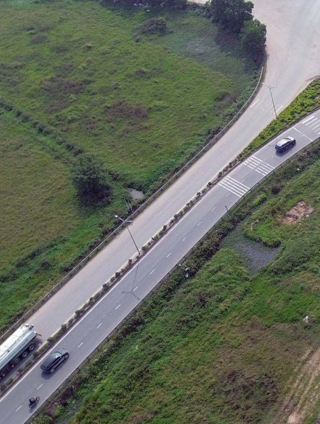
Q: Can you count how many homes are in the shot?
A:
zero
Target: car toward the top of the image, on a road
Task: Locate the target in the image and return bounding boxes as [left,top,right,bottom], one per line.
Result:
[274,136,296,153]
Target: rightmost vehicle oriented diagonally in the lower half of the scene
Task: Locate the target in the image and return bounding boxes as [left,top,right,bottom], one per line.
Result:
[41,348,69,373]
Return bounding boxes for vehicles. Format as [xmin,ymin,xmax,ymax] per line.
[41,348,69,373]
[28,398,37,408]
[274,136,296,153]
[0,327,31,366]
